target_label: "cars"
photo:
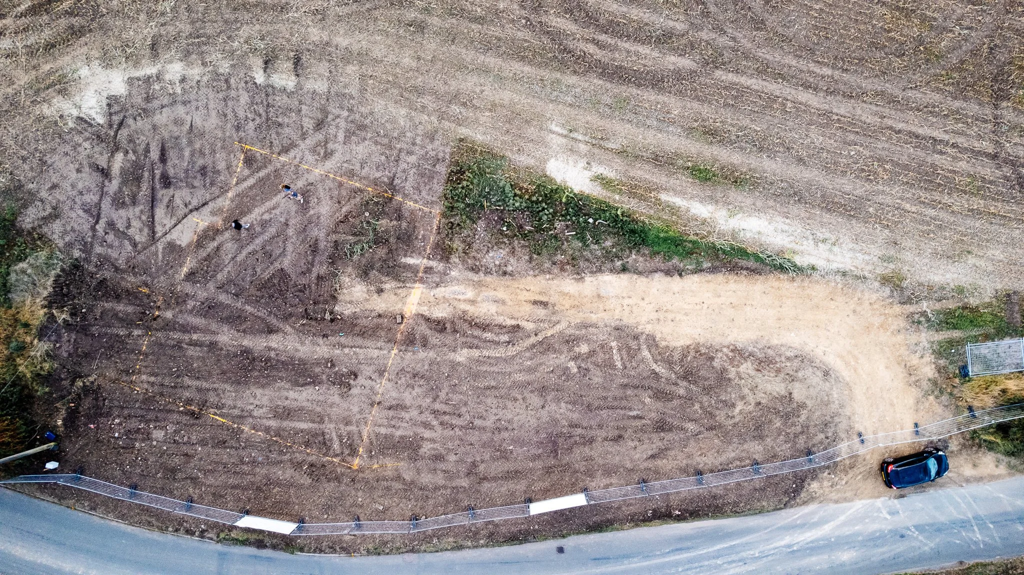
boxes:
[879,447,949,491]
